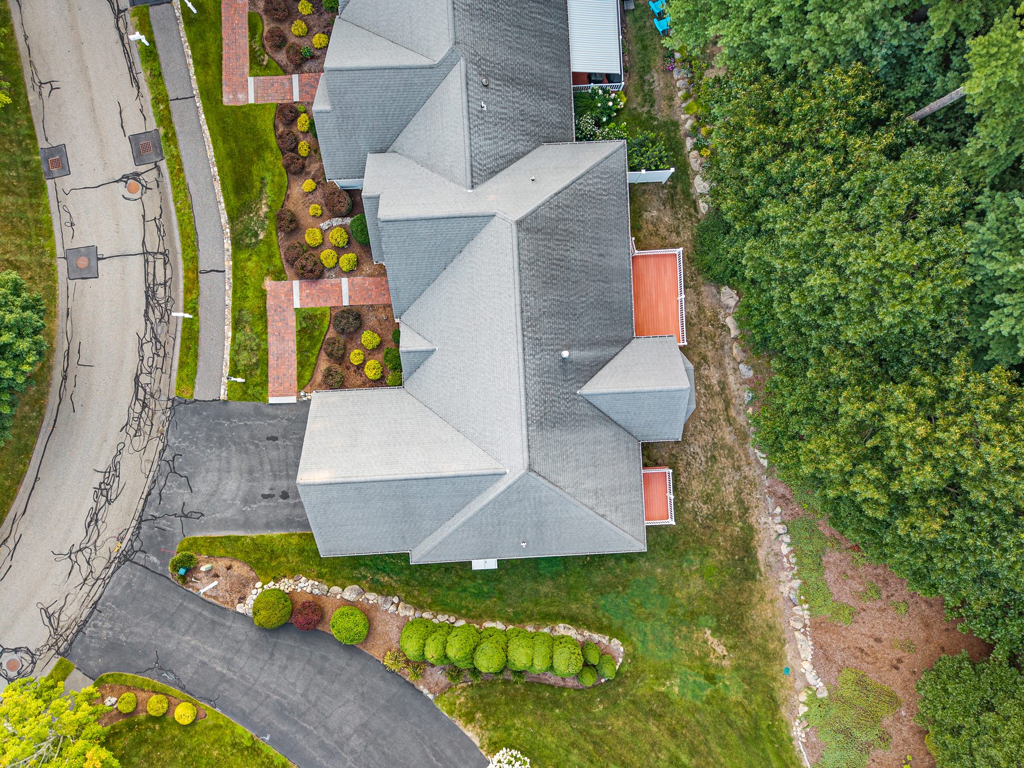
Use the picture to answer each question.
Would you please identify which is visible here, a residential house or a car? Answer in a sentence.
This aerial view contains a residential house.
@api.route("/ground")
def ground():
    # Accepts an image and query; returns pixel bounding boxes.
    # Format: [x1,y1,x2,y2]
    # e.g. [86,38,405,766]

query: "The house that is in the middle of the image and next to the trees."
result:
[297,139,696,567]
